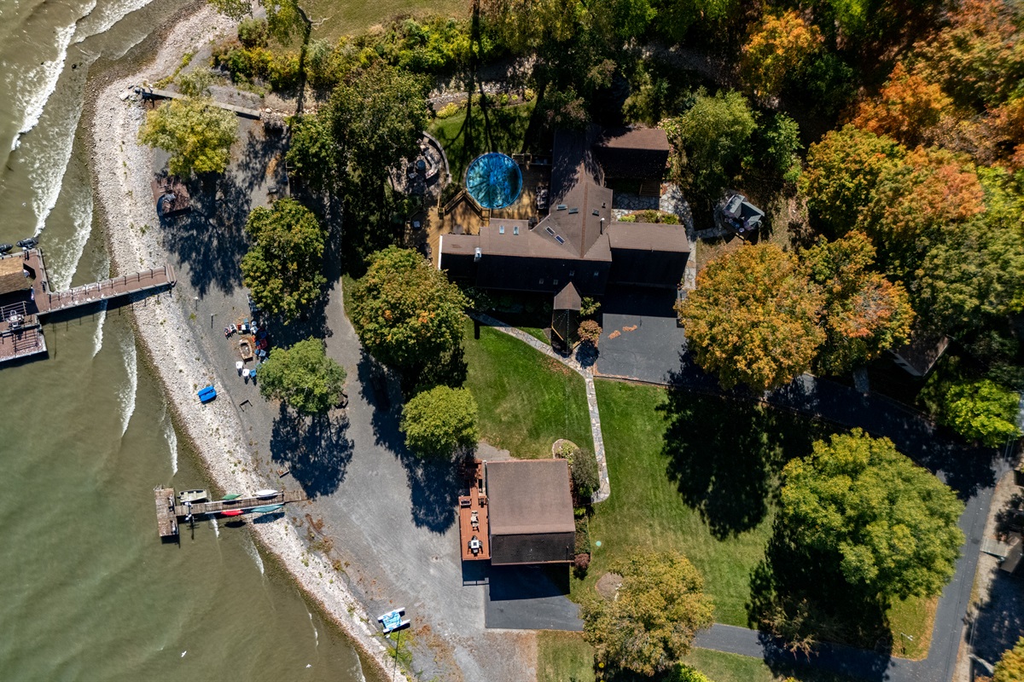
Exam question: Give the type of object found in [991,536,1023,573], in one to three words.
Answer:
shed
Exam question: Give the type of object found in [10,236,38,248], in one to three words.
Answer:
boat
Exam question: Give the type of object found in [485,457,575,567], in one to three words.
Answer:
building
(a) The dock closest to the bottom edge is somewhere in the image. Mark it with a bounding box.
[154,484,306,536]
